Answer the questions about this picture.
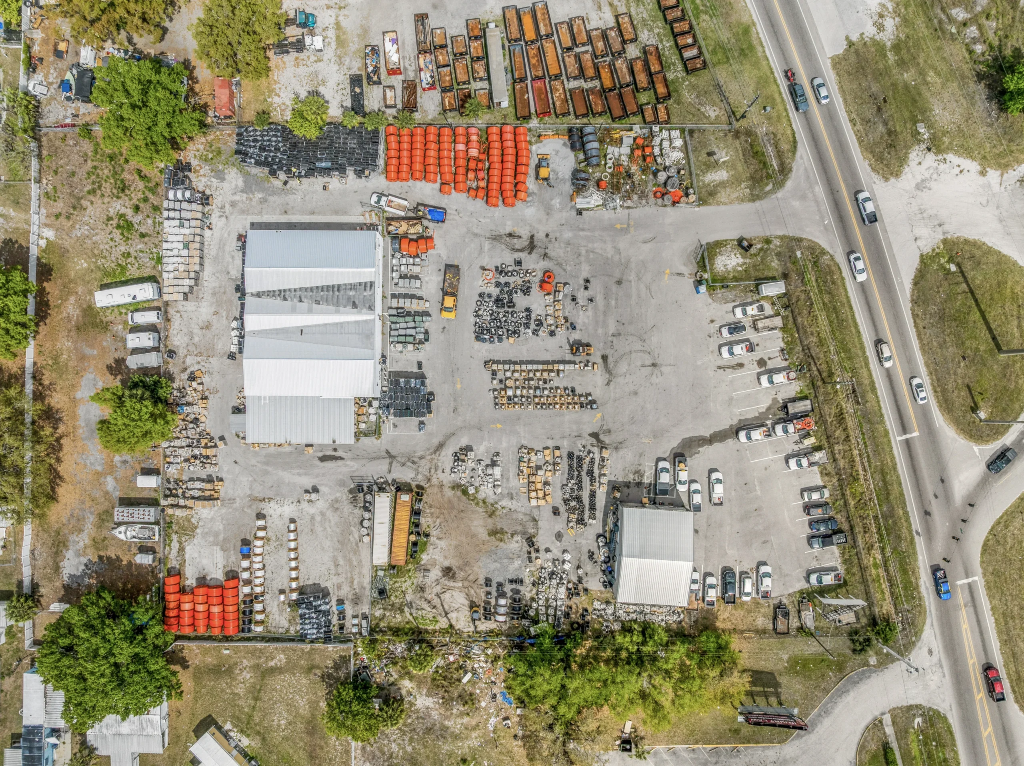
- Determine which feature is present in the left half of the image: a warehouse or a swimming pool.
warehouse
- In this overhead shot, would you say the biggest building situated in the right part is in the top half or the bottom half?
bottom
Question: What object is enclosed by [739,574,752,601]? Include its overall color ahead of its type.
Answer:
white vehicle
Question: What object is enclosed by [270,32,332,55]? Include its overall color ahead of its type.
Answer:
white truck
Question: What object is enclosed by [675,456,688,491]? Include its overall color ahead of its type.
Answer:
white vehicle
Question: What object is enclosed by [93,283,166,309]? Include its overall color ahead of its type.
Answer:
white camper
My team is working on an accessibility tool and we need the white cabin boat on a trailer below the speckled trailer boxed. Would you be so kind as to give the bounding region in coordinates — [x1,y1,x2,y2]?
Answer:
[111,524,164,541]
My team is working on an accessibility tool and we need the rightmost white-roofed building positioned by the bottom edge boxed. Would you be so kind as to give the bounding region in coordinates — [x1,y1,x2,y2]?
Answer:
[189,720,262,766]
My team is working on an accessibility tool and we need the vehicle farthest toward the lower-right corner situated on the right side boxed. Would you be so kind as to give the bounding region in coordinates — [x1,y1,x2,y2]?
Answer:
[982,666,1005,703]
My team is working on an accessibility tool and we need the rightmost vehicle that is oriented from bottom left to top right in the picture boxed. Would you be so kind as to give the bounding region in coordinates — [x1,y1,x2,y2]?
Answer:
[983,445,1019,475]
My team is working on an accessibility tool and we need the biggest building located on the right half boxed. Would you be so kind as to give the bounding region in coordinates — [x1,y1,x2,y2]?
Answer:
[612,502,693,608]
